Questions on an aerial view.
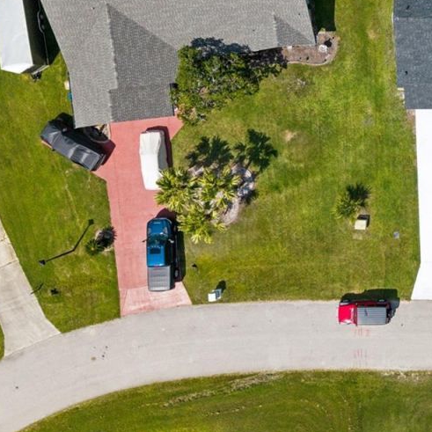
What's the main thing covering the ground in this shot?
grass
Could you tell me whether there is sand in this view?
No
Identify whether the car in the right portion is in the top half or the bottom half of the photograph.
bottom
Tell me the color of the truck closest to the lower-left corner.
blue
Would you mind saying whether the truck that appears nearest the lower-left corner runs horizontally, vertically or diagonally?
vertically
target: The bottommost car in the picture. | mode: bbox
[341,301,389,328]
